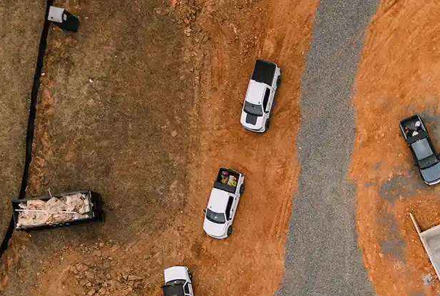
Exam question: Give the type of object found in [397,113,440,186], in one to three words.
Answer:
truck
